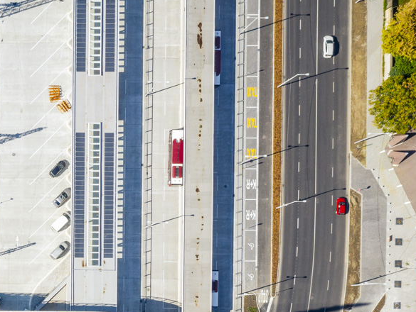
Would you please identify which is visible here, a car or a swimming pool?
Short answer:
car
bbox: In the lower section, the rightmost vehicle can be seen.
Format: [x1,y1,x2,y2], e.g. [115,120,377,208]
[336,197,348,217]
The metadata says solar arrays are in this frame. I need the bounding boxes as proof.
[77,132,86,258]
[106,0,116,71]
[105,132,115,258]
[77,0,87,71]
